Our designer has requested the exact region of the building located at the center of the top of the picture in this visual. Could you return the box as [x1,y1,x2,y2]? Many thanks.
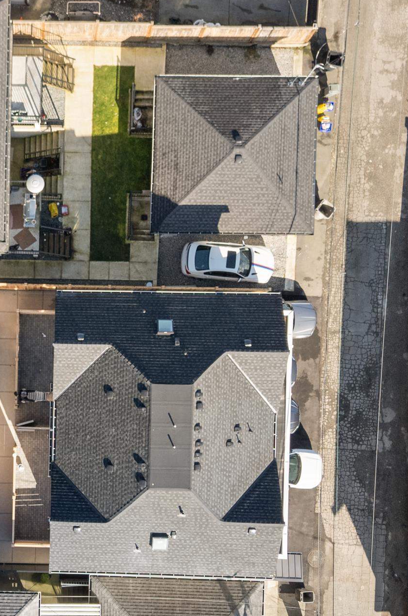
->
[147,52,331,238]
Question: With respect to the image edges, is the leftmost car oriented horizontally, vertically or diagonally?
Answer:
horizontally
